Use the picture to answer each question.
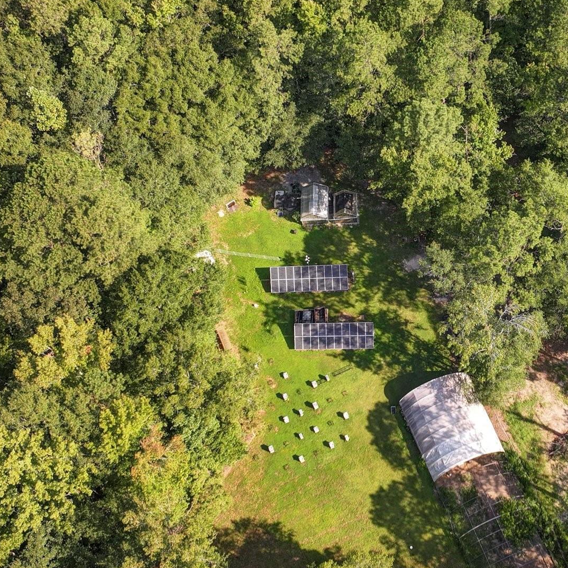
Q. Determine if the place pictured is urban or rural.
rural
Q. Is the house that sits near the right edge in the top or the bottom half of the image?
bottom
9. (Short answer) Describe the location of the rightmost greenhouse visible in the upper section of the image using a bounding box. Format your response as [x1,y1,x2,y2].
[329,189,359,224]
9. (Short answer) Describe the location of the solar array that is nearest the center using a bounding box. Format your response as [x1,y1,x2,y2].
[271,265,349,293]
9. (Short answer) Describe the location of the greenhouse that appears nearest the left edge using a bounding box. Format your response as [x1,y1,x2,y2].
[300,183,330,226]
